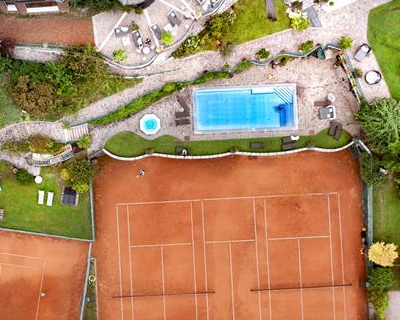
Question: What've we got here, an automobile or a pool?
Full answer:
Of the two, only a pool appears.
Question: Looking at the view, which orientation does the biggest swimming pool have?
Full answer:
The biggest swimming pool runs from side to side in the image.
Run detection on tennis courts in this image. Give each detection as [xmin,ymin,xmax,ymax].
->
[0,229,92,320]
[251,144,368,320]
[199,155,260,320]
[94,153,211,320]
